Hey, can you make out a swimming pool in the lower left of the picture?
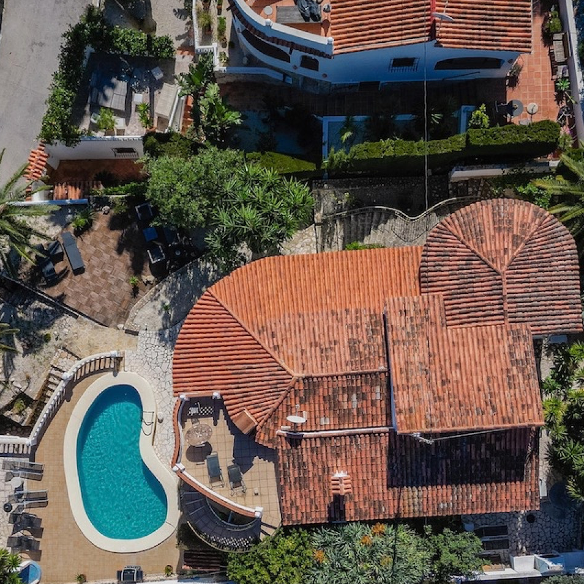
Yes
